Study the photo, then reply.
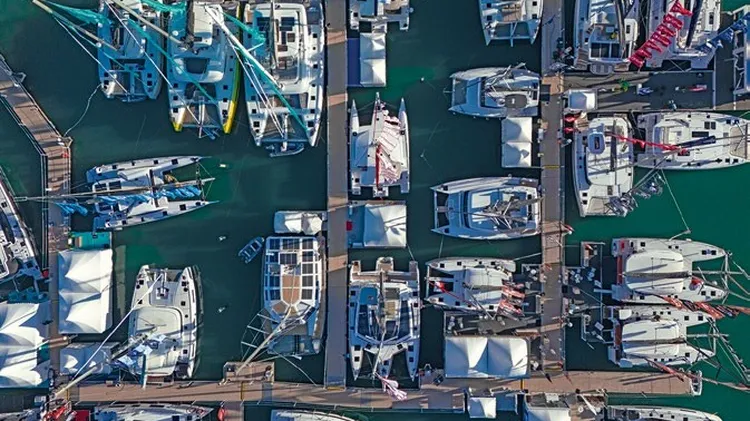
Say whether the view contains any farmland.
No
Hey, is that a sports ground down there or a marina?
marina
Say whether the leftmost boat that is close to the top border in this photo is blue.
Yes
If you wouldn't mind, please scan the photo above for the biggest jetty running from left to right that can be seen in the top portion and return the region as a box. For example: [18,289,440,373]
[562,40,736,113]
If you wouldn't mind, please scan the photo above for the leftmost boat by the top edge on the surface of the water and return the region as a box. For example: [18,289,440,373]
[21,0,168,102]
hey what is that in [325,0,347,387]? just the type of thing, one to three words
pier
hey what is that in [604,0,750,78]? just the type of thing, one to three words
boat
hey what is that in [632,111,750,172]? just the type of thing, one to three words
boat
